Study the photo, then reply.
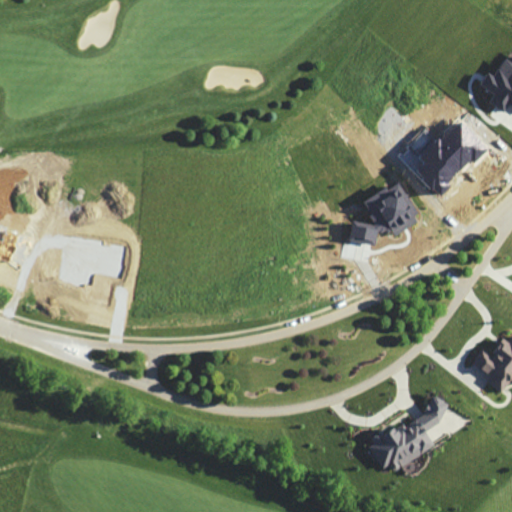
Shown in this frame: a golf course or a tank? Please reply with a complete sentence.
It is a golf course that can be seen here.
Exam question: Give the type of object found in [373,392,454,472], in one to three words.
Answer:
house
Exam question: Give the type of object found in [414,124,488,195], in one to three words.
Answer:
house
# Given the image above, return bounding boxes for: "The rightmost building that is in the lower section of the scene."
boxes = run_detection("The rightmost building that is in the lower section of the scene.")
[474,332,512,397]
